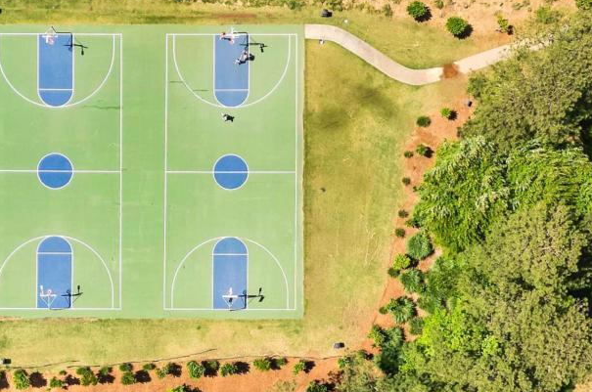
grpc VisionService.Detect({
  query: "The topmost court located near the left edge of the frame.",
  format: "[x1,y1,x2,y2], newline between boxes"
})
[0,24,144,319]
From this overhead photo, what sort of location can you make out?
sports ground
